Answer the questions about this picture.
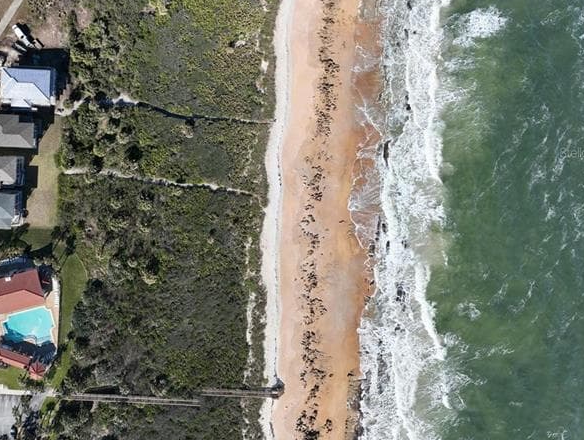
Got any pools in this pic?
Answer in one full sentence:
Yes, the image includes a pool.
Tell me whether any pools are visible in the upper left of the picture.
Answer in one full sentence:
No, looking in the upper left of the picture, there is no pool.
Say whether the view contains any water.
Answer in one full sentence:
Yes, there is water in the image.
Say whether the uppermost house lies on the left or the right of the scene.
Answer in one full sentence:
The uppermost house sits on the left side.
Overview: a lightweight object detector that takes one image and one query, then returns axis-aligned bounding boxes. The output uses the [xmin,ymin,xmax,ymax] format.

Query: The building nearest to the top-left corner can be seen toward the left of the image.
[1,68,56,107]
